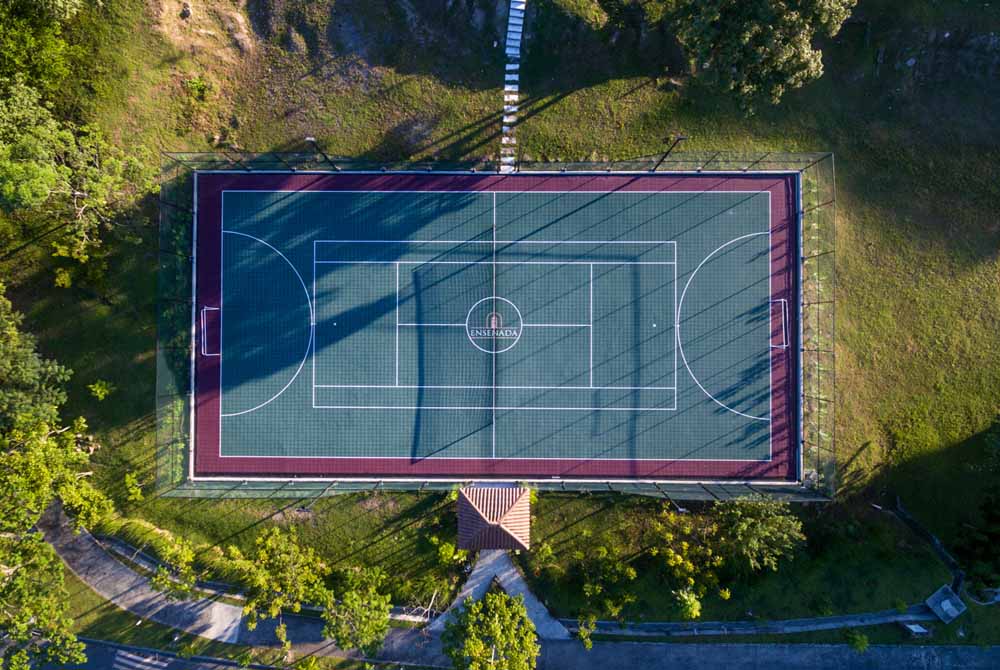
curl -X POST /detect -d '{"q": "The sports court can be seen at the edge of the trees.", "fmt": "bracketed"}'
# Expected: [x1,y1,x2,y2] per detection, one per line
[188,169,805,483]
